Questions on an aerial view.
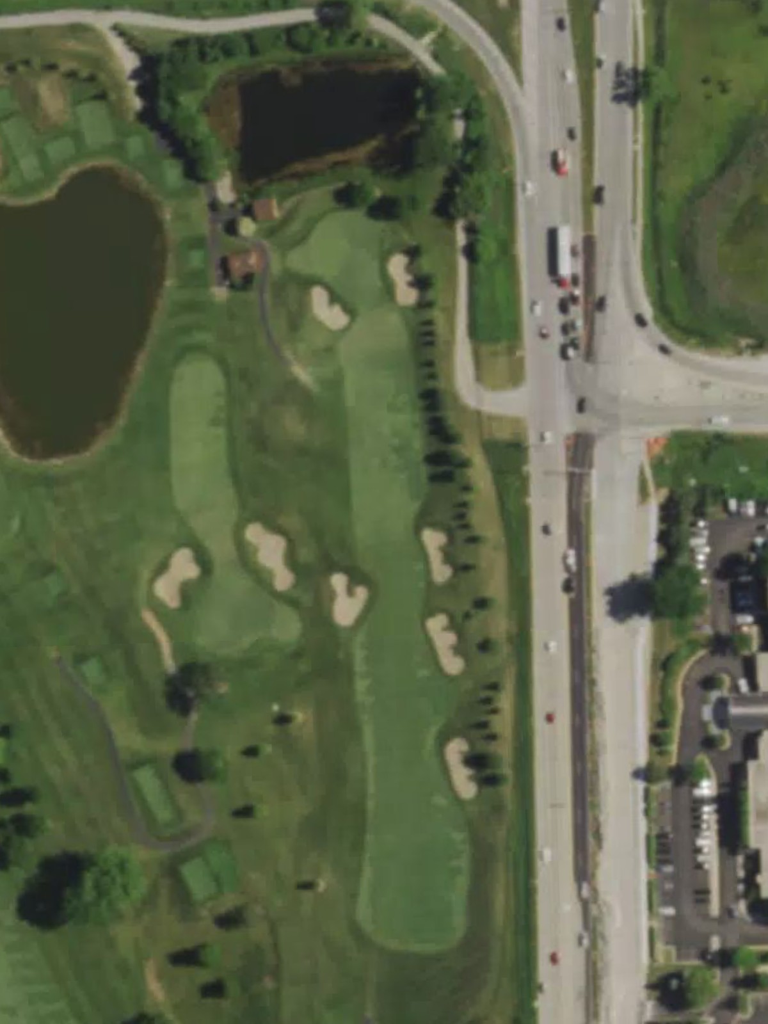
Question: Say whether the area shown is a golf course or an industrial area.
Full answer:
It's a golf course.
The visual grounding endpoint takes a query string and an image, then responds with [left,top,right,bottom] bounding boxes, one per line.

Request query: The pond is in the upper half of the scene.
[238,66,423,182]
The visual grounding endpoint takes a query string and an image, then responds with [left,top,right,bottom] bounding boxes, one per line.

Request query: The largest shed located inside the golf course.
[228,248,261,273]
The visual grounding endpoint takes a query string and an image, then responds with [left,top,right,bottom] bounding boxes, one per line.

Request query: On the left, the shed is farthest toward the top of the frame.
[253,198,274,219]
